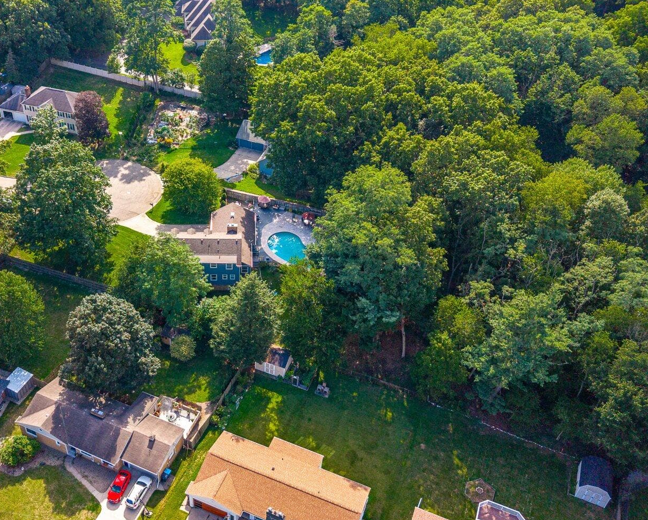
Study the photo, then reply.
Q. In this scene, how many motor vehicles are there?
2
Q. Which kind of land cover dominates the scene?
trees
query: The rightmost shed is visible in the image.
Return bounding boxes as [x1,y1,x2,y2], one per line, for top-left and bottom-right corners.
[577,456,613,513]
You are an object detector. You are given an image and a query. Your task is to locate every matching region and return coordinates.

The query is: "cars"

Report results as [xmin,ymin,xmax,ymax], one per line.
[106,467,138,506]
[124,473,157,512]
